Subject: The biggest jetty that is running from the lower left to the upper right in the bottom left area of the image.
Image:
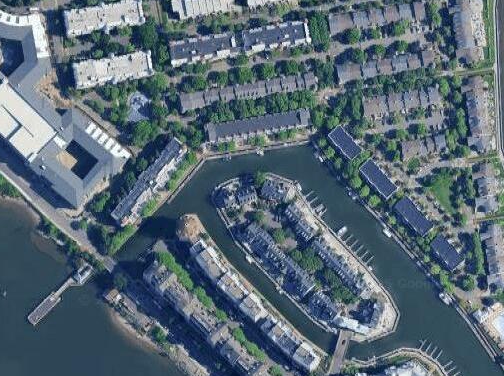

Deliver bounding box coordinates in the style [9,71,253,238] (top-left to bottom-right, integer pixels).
[28,262,95,325]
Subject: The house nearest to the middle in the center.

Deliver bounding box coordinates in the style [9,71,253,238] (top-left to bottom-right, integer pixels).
[237,178,257,205]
